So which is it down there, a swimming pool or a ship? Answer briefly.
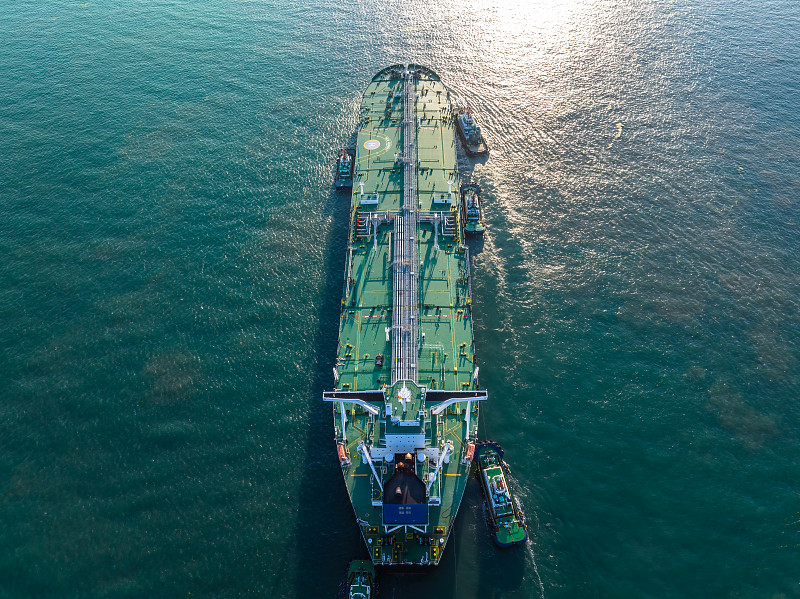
ship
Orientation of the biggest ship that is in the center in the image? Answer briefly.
up and down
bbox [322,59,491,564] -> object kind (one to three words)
ship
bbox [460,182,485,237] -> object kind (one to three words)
boat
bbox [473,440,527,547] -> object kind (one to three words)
boat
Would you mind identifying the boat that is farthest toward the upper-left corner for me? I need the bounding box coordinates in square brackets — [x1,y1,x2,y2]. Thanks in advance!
[334,146,355,191]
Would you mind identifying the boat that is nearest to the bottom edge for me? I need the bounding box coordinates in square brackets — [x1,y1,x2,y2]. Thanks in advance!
[345,557,378,599]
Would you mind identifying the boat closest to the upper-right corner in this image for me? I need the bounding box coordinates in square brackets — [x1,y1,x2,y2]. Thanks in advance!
[455,110,488,158]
